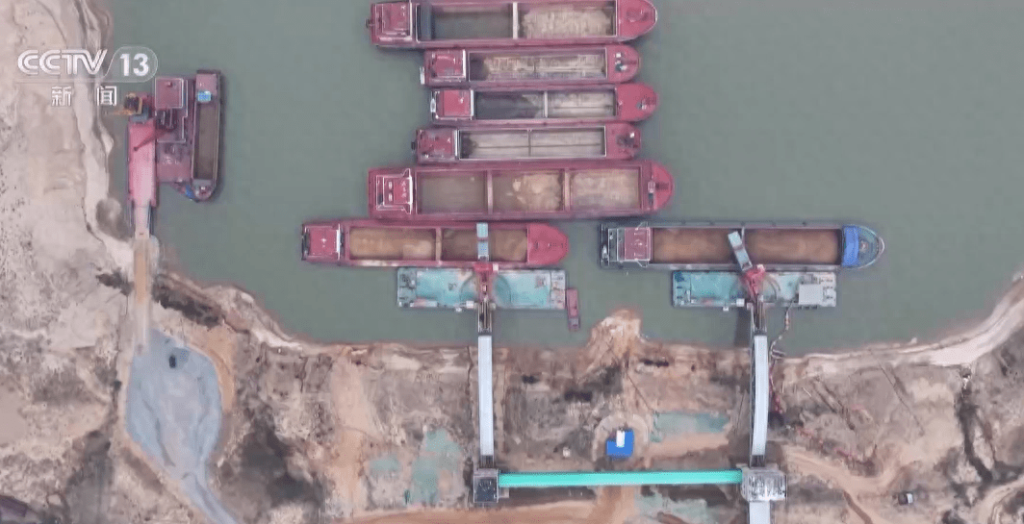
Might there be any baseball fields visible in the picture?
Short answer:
No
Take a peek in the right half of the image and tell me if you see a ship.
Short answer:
Yes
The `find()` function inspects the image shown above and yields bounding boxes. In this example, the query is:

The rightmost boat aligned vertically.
[567,289,579,330]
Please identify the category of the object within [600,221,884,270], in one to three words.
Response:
ship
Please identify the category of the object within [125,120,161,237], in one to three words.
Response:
pier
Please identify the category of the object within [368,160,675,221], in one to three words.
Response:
ship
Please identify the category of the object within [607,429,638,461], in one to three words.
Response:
shed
